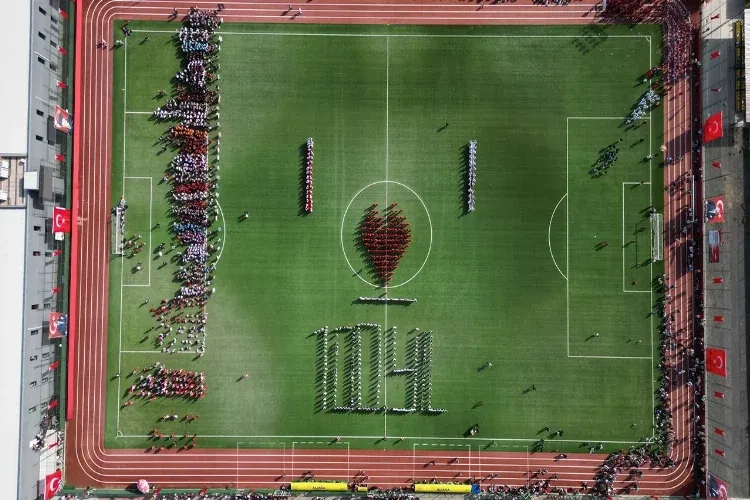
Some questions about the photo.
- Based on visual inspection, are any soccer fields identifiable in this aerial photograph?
Yes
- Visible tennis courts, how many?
0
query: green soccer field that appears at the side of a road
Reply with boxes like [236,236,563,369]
[105,20,666,488]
